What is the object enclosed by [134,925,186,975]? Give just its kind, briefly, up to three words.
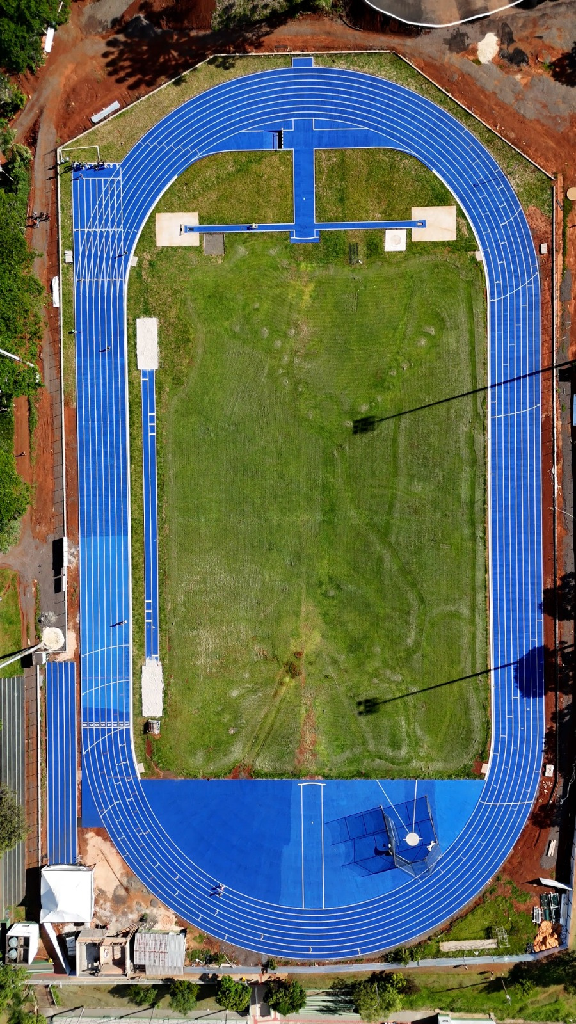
shed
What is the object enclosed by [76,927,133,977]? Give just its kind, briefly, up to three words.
building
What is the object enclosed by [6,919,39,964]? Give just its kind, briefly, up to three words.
house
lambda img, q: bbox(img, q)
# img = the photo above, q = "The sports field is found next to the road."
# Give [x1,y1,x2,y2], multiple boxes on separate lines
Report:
[129,148,493,778]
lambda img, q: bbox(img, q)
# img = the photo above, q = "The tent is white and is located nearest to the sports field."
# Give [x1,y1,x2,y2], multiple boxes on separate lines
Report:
[42,859,97,919]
